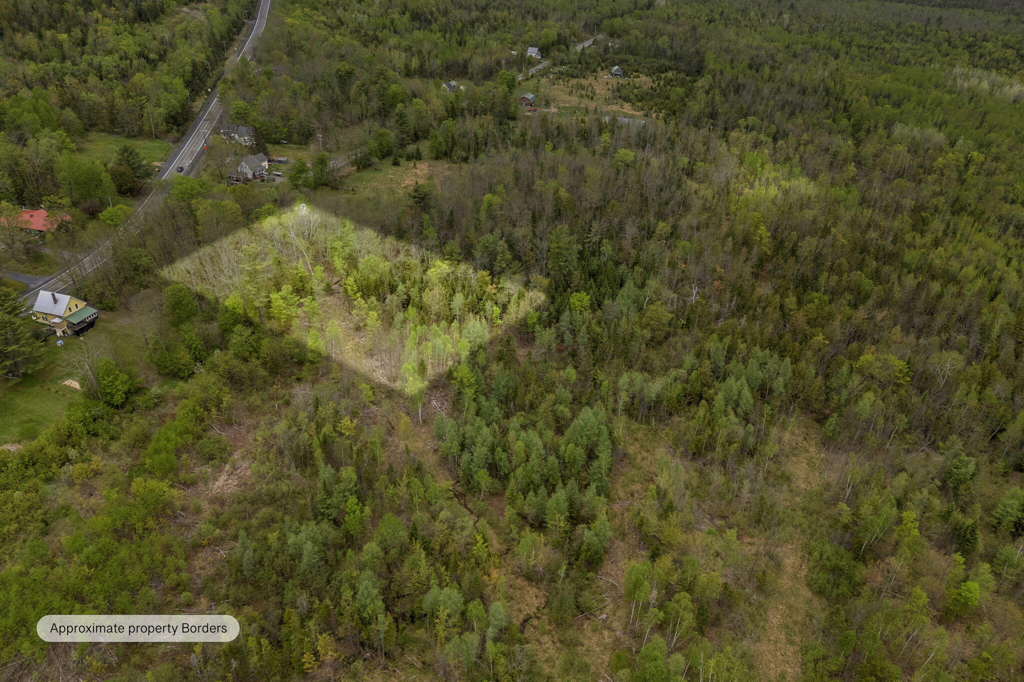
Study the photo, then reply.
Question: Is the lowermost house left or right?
left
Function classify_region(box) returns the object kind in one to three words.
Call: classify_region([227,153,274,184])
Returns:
house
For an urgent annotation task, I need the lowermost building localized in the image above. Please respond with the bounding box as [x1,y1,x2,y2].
[32,288,103,336]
